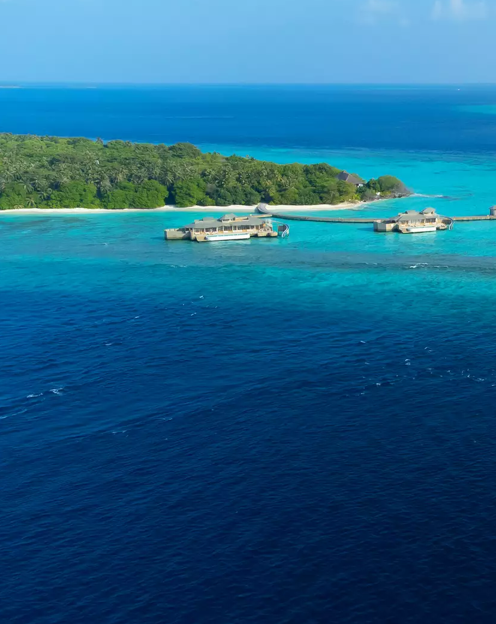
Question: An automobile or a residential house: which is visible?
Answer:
residential house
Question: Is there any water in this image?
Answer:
Yes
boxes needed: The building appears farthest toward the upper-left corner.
[168,214,282,242]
